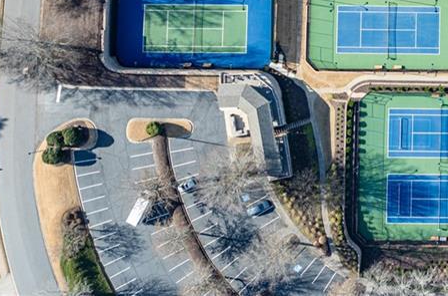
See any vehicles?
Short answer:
Yes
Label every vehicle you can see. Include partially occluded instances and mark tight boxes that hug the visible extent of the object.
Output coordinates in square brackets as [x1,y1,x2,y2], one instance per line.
[249,202,271,215]
[177,177,198,192]
[121,198,147,230]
